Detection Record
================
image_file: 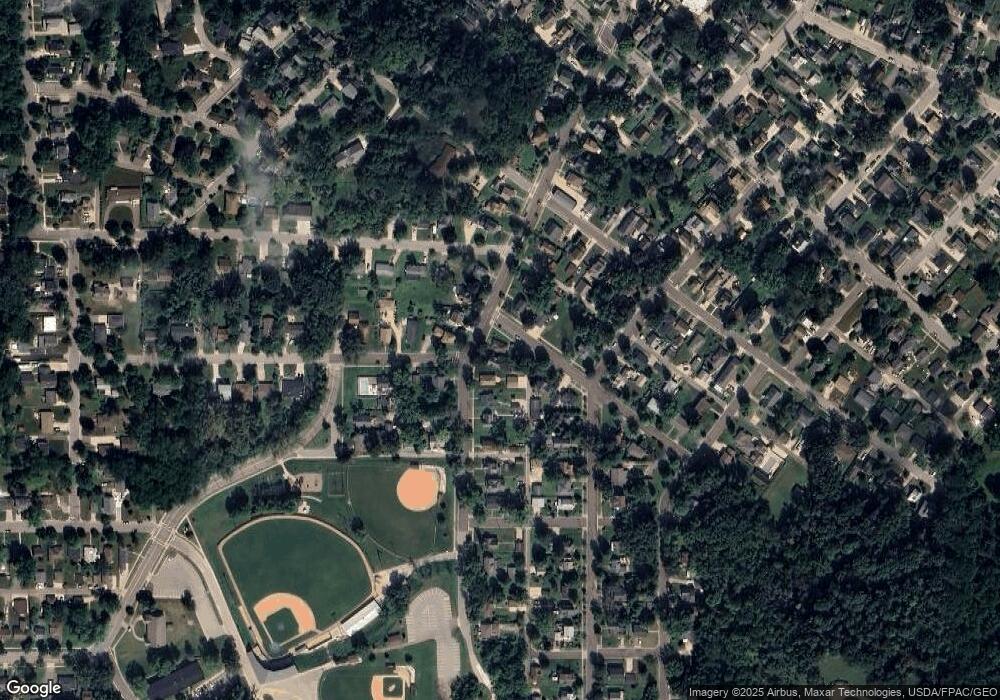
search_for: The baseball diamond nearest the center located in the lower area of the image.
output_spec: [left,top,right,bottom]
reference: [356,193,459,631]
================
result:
[348,464,446,560]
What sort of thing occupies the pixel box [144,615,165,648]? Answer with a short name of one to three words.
building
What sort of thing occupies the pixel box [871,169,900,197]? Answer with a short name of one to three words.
house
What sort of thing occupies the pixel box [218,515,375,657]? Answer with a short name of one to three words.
baseball field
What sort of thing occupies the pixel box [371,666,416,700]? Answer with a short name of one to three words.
baseball field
